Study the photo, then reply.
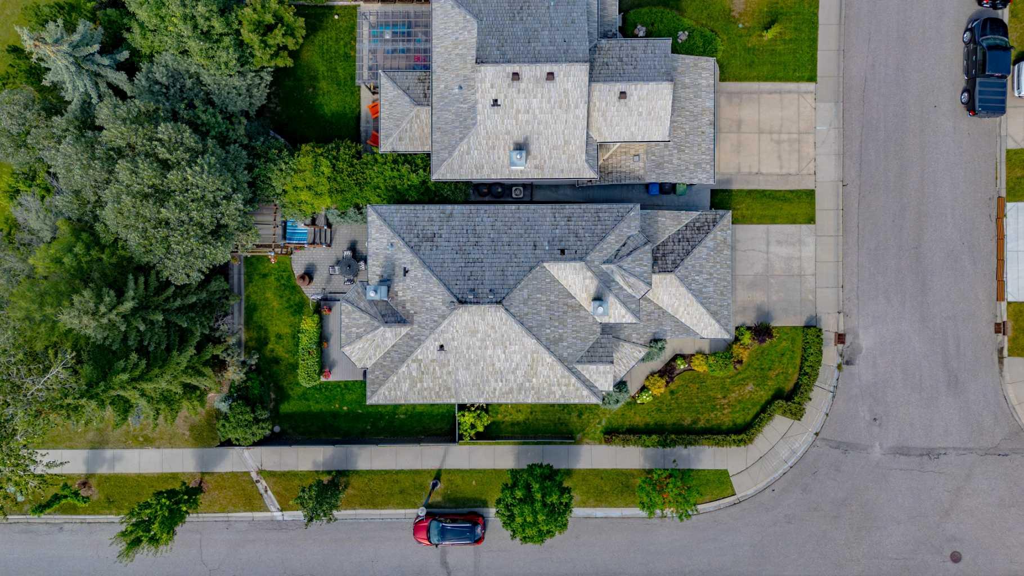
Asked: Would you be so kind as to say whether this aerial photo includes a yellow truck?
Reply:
No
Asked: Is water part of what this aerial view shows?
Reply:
No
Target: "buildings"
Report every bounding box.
[338,202,734,407]
[377,0,718,187]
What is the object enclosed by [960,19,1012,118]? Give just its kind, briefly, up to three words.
truck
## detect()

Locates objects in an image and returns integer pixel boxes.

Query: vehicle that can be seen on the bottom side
[414,510,487,550]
